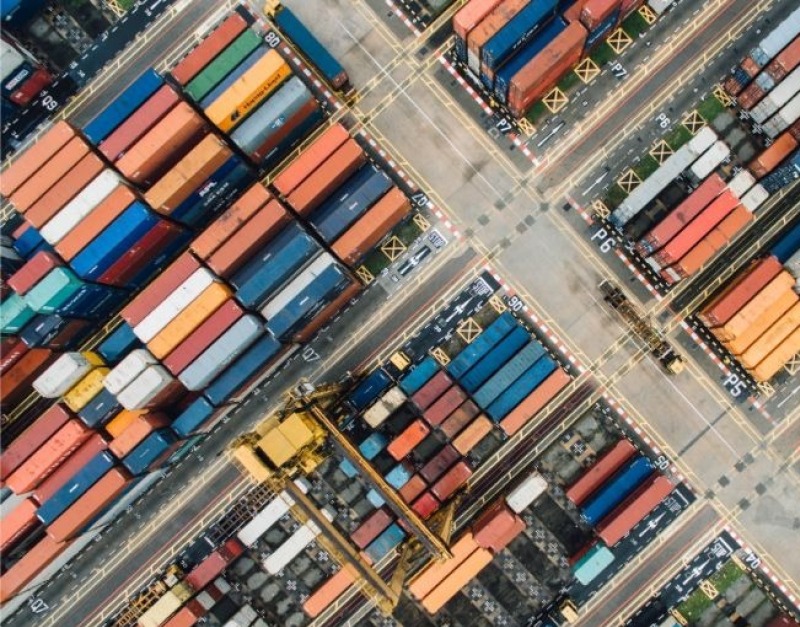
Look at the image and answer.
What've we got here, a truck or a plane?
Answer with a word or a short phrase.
truck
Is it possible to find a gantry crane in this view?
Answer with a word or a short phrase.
Yes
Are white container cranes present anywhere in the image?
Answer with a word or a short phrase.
No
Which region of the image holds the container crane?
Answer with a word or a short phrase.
bottom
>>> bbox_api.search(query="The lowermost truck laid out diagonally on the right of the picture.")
[531,583,589,627]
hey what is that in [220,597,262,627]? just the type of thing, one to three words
shipping container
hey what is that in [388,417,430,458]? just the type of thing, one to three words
shipping container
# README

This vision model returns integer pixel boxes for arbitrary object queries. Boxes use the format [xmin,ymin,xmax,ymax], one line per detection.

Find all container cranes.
[235,377,463,614]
